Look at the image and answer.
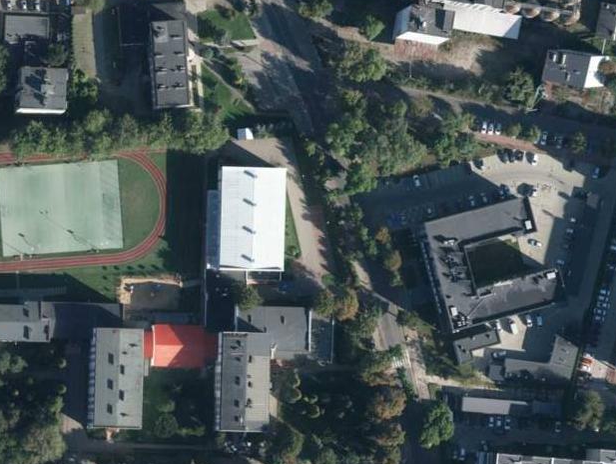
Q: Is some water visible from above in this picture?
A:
No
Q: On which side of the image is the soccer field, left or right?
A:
left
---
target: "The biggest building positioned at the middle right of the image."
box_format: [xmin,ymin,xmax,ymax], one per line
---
[419,198,565,333]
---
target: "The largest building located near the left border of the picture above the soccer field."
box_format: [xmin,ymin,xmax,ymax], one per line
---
[14,67,68,114]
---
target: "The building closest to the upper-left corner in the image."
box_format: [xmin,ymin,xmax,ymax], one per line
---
[2,14,49,47]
